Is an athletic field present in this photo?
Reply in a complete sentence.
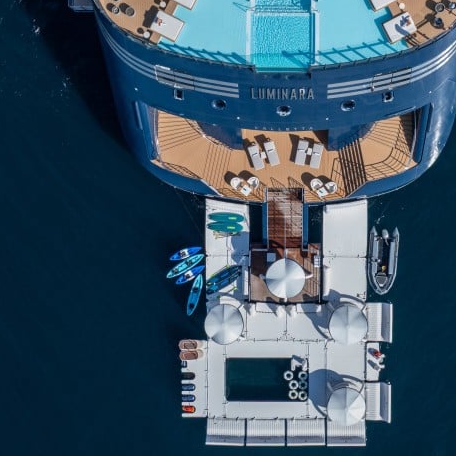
No, the photo shows no athletic field.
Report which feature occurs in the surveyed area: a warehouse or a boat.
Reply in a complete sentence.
Looking from above, you can make out a boat.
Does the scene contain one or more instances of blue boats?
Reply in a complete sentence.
Yes, the frame does contain a blue boat.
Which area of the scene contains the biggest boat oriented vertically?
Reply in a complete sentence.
The biggest boat oriented vertically appears toward the right of the photo.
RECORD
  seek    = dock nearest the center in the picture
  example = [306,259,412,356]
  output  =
[206,200,250,256]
